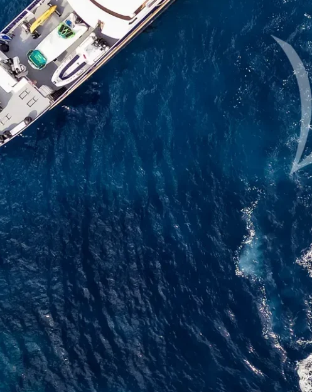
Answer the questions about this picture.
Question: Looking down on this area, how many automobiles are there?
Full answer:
I count no automobiles.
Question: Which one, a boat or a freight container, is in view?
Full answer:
Looking from above, you can make out a boat.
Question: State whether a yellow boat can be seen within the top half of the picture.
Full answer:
Yes, a yellow boat appears within the top half of the picture.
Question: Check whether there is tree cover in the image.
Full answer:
No, there's no tree cover in this view.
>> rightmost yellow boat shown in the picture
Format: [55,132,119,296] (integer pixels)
[21,2,64,38]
